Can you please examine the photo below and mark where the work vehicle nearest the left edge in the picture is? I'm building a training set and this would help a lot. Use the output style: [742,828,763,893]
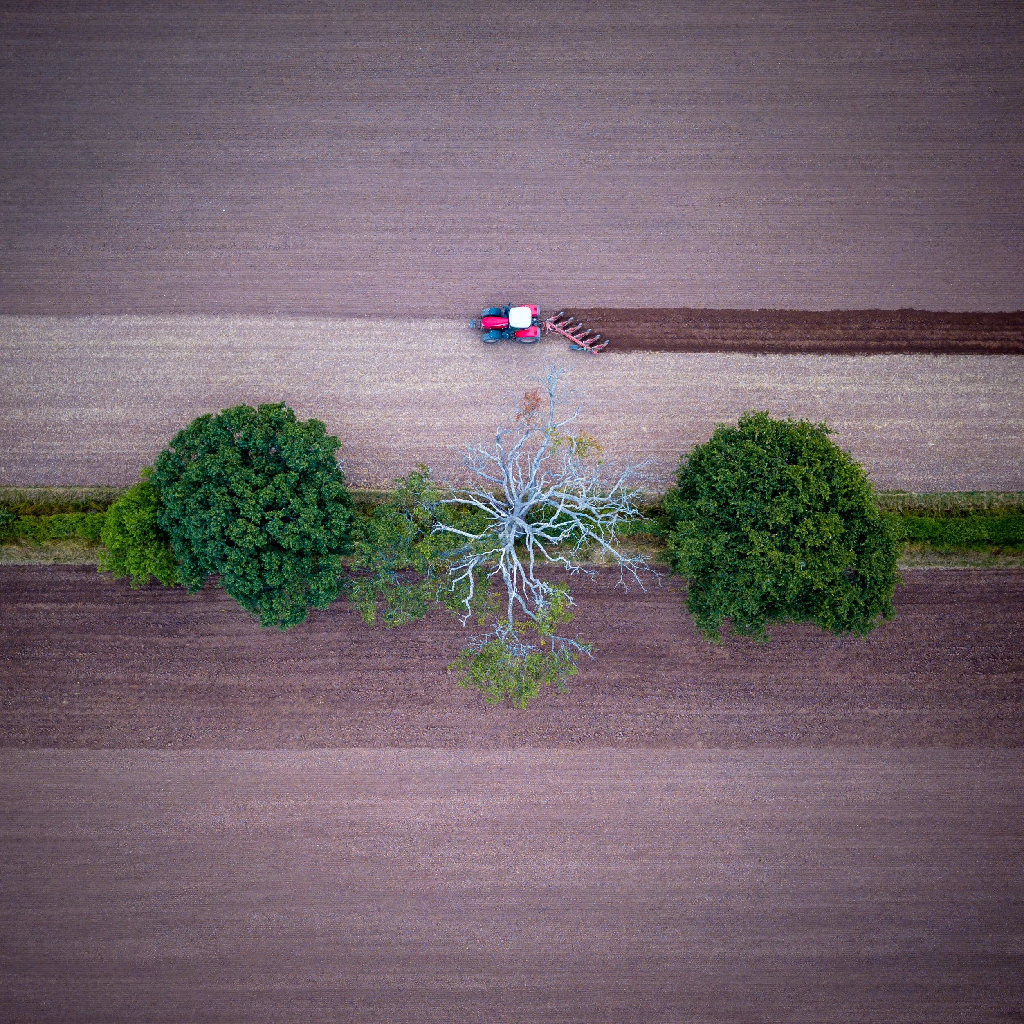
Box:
[470,303,543,342]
